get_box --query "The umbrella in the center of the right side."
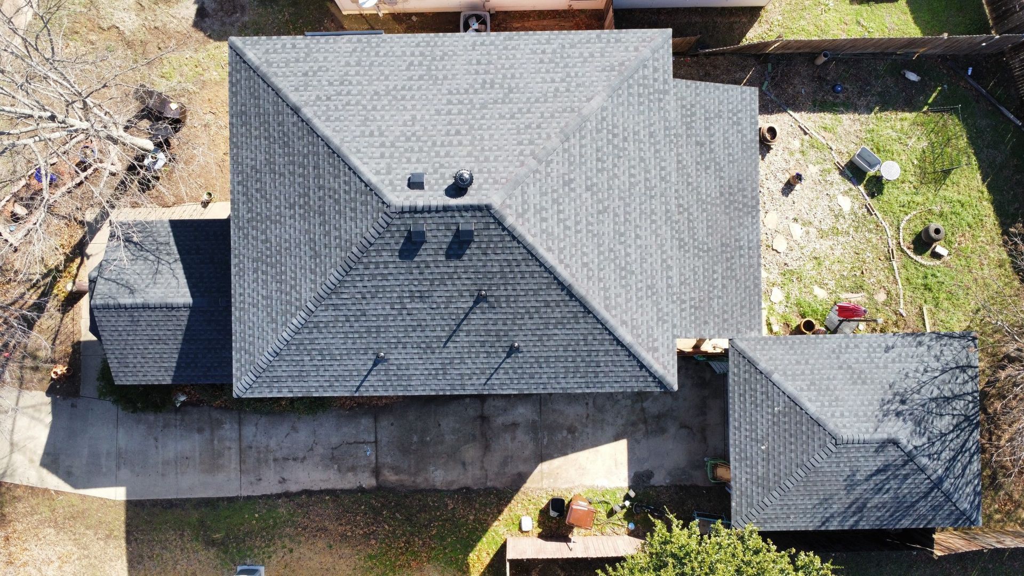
[825,301,884,337]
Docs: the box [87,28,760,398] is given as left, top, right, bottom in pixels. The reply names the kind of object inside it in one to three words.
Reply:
house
